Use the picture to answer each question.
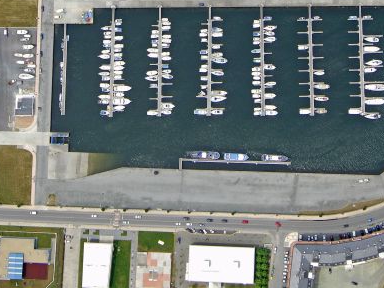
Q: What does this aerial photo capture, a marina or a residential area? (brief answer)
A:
marina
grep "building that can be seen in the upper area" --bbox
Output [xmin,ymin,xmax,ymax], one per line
[15,95,35,116]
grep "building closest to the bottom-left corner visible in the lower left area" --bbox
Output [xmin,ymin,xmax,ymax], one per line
[0,236,52,281]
